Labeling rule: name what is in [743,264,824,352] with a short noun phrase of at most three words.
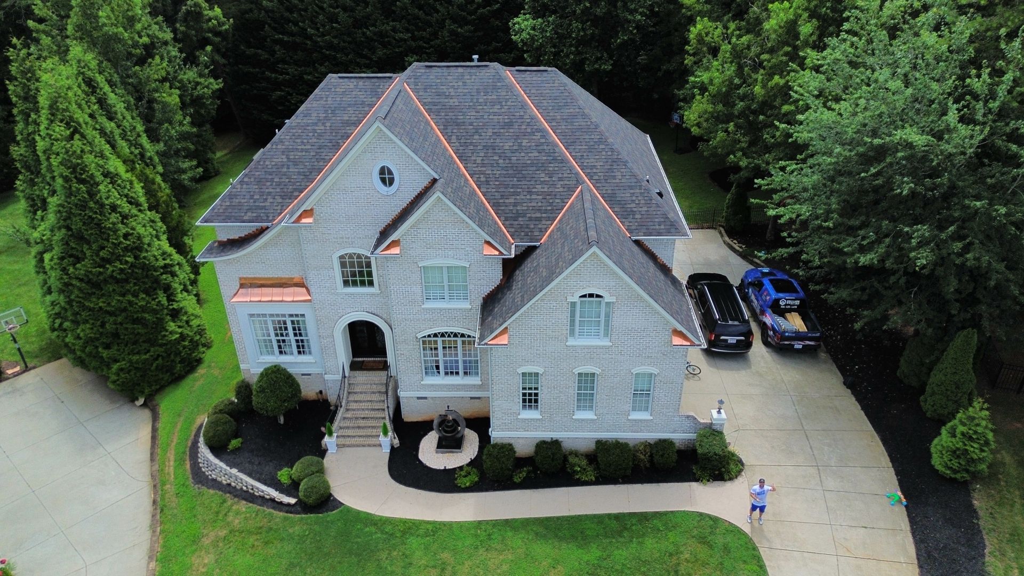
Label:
truck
